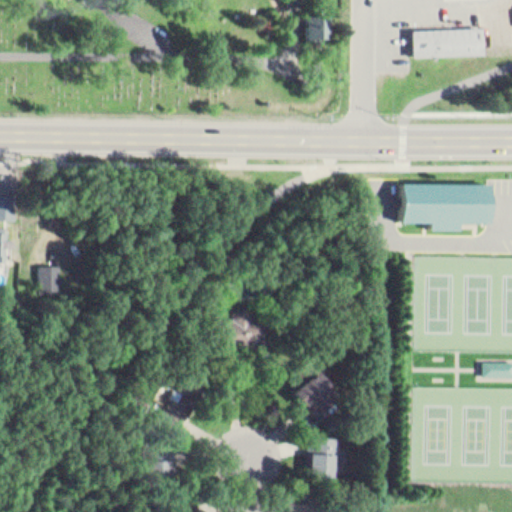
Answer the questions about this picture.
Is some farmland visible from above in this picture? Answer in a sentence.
No, the scene doesn't show any farmland.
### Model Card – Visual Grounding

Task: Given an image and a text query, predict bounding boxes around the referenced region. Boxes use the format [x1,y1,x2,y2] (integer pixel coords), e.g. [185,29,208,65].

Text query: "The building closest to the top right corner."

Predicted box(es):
[410,29,486,60]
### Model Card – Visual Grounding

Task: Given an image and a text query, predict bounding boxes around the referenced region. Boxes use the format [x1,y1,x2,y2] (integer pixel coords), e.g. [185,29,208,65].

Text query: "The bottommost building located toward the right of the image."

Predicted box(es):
[312,454,337,480]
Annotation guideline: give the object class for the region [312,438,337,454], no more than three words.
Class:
building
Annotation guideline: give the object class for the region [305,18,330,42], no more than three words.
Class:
house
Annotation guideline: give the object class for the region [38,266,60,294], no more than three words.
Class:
house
